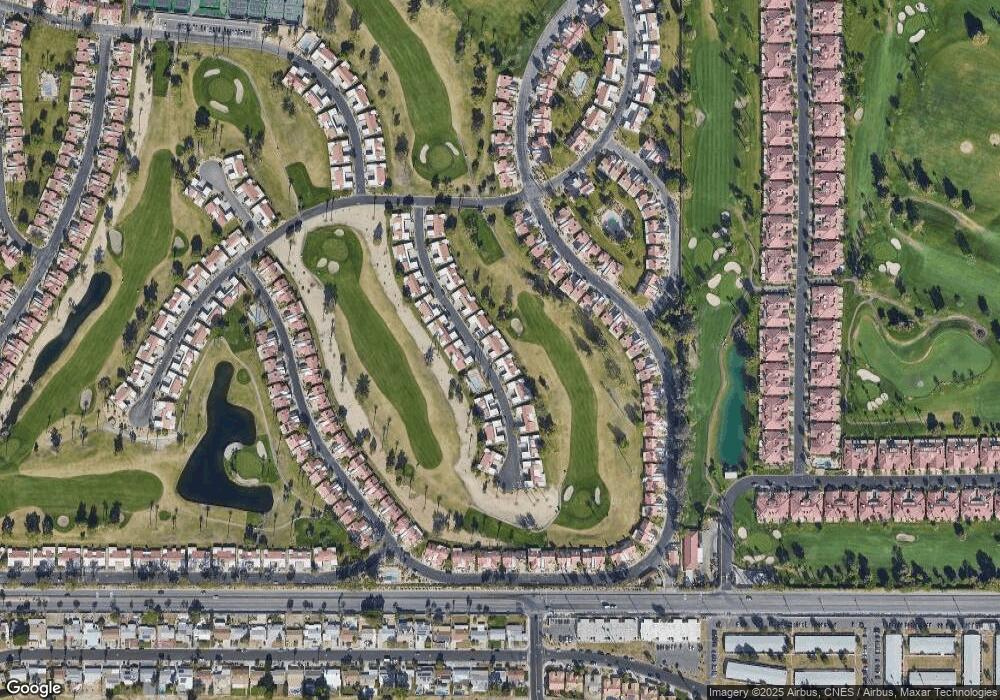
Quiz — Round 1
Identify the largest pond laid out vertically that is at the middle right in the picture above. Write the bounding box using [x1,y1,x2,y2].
[720,340,748,466]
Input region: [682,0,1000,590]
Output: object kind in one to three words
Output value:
golf course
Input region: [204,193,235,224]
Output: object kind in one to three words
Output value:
house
